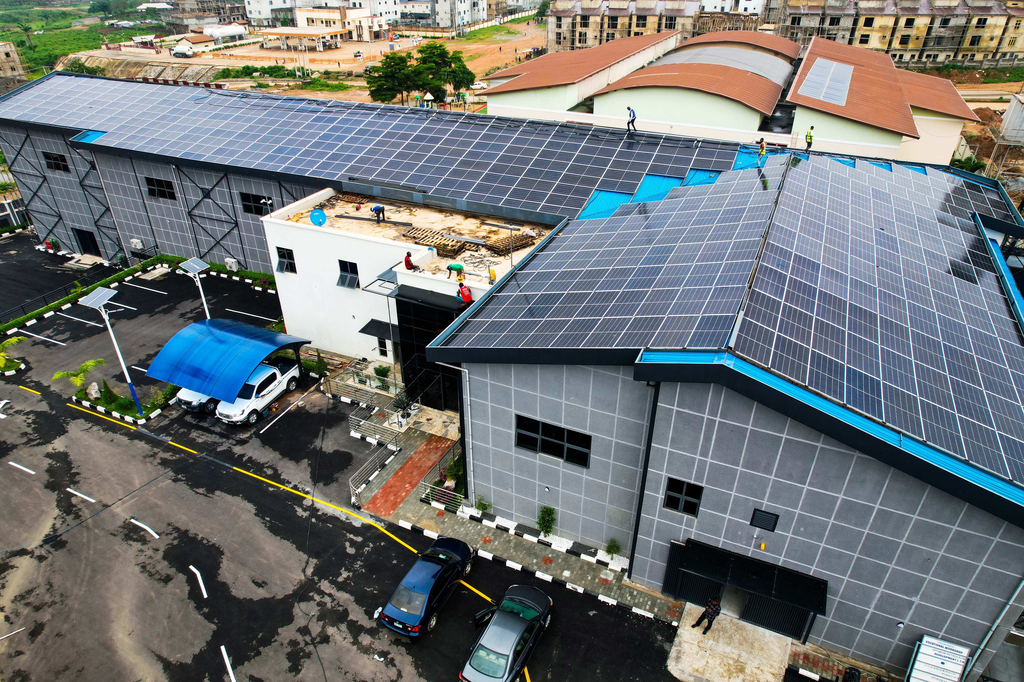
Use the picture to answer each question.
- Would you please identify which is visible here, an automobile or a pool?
automobile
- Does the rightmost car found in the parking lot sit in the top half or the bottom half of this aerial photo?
bottom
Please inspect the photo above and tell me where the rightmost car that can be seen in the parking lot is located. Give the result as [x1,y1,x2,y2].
[456,584,554,682]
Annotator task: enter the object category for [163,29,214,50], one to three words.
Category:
house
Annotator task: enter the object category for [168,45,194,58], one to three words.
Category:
vehicle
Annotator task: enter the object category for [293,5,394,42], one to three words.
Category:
building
